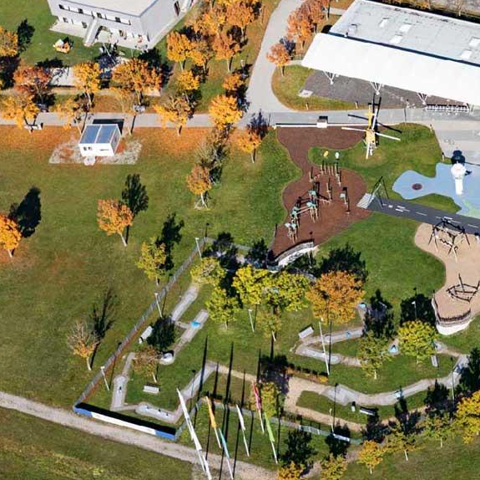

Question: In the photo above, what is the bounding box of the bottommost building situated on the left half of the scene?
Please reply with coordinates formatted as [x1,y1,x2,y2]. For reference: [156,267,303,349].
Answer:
[79,125,121,157]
